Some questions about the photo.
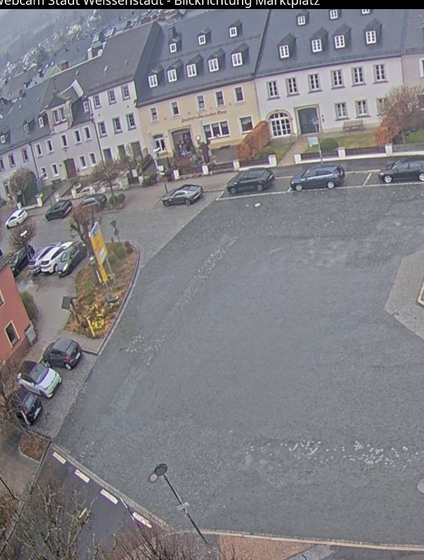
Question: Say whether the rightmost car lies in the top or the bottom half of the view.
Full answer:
Seen from above, the rightmost car lies in the top half of the view.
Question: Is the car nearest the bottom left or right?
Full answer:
The car nearest the bottom sits on the left side.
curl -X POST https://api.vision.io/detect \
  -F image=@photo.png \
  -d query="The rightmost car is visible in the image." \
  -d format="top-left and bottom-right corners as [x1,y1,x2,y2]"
[375,153,424,183]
